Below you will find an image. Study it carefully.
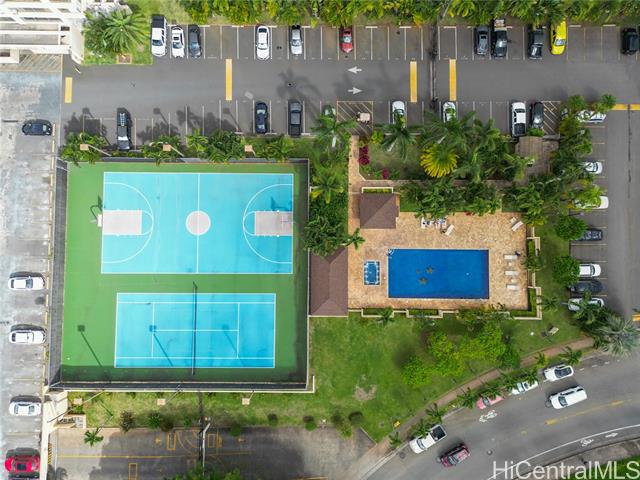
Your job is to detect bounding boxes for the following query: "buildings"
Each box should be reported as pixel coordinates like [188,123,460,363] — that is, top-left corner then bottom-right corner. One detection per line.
[360,193,396,229]
[0,0,96,68]
[309,247,348,316]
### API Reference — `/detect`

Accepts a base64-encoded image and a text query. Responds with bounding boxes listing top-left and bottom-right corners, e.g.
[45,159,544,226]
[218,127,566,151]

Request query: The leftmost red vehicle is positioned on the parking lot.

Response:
[4,455,42,475]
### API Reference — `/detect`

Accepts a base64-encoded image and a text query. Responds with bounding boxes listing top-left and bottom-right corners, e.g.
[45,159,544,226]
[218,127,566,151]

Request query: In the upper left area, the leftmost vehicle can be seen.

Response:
[21,120,53,136]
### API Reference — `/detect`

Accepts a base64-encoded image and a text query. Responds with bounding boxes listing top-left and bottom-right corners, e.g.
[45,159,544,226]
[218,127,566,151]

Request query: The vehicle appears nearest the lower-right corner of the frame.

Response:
[548,386,589,410]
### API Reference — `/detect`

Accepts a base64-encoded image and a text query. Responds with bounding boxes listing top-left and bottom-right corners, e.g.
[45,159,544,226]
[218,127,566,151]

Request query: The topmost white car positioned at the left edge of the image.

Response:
[8,275,47,291]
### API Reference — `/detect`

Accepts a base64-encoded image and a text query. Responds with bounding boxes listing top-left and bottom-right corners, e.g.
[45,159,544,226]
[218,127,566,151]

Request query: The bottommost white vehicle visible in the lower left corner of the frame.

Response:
[7,400,43,418]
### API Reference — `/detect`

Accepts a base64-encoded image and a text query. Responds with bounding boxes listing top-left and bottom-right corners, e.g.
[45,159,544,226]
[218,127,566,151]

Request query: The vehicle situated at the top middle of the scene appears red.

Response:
[339,26,354,54]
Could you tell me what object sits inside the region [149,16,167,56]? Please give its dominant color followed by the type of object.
white vehicle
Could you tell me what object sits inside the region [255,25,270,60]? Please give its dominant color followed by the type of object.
white car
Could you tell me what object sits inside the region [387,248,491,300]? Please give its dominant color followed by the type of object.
blue swimming pool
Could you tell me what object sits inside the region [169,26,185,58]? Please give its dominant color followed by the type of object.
white car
